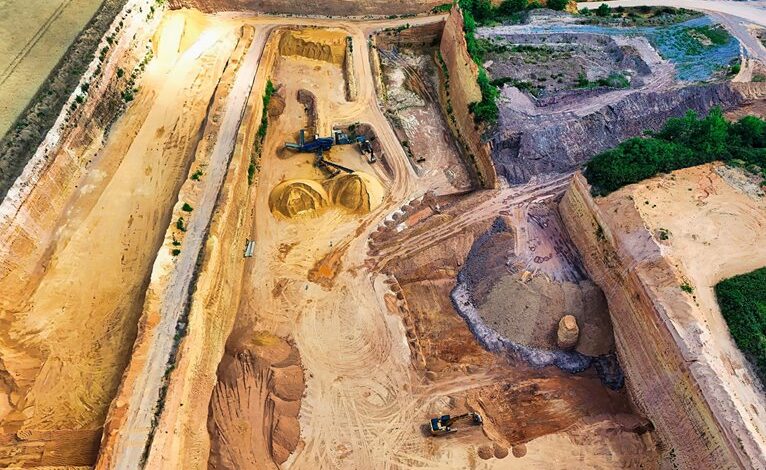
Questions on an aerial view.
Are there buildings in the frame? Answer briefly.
No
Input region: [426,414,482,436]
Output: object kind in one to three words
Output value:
work vehicle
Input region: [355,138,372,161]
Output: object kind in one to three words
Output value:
work vehicle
